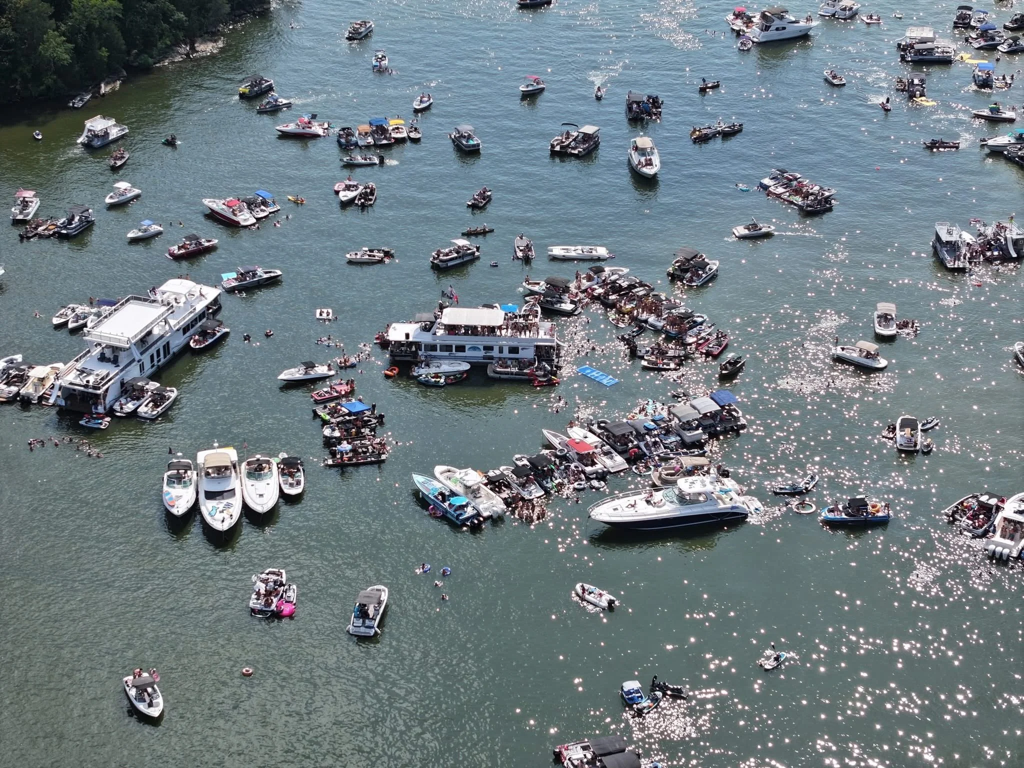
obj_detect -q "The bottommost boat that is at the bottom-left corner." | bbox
[121,670,163,717]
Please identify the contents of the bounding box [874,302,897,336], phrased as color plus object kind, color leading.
white boat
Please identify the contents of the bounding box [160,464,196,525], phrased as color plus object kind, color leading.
white boat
